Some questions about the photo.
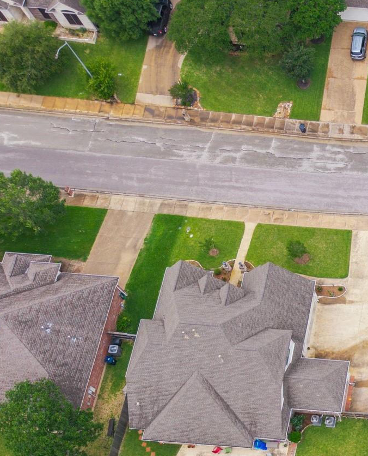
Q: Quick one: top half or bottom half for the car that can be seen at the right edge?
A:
top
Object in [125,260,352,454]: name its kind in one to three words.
house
